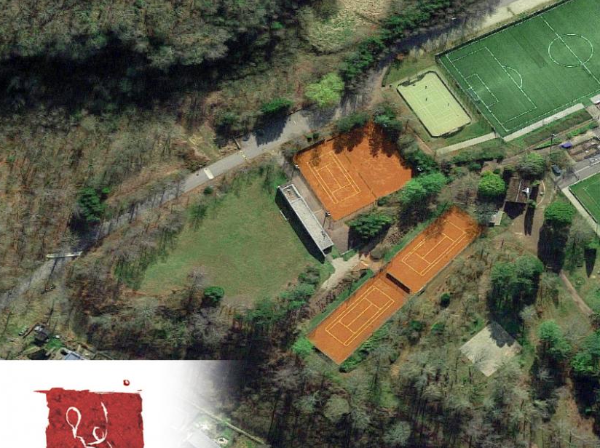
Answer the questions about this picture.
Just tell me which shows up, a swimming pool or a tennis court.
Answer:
tennis court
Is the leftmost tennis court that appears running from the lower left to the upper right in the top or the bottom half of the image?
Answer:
bottom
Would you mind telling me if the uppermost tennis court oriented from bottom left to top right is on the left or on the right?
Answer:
right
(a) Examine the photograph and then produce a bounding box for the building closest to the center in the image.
[280,183,336,257]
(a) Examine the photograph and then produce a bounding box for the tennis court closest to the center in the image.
[294,143,371,221]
